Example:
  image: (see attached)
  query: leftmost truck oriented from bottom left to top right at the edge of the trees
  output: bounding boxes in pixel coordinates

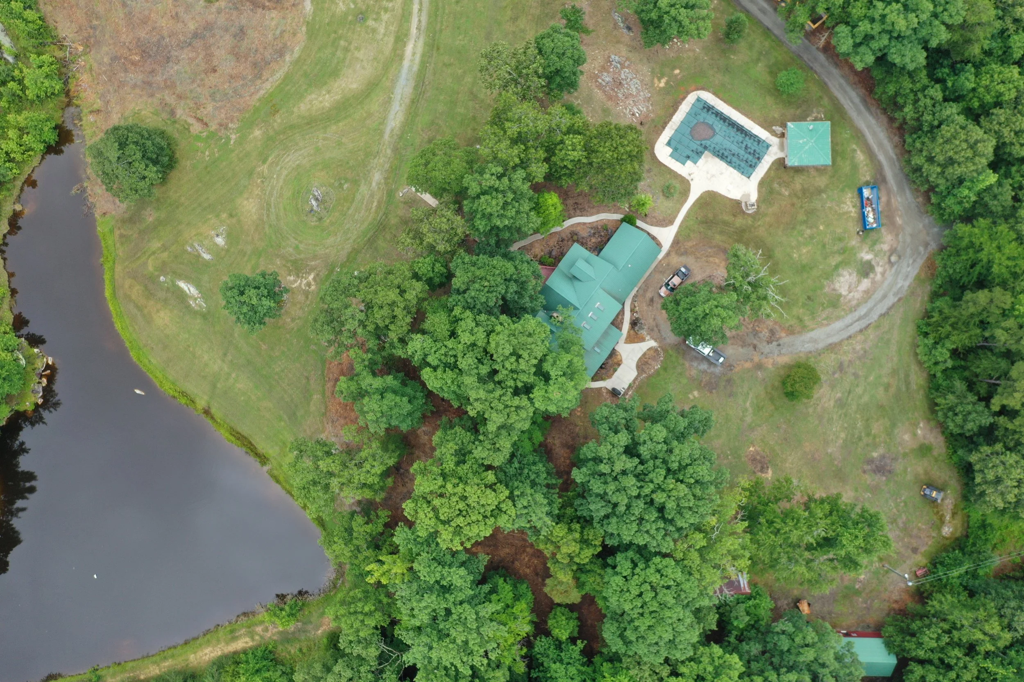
[656,259,696,300]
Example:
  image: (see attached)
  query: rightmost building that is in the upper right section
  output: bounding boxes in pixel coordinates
[784,121,832,167]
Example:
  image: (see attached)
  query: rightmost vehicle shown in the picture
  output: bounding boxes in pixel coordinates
[918,484,943,504]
